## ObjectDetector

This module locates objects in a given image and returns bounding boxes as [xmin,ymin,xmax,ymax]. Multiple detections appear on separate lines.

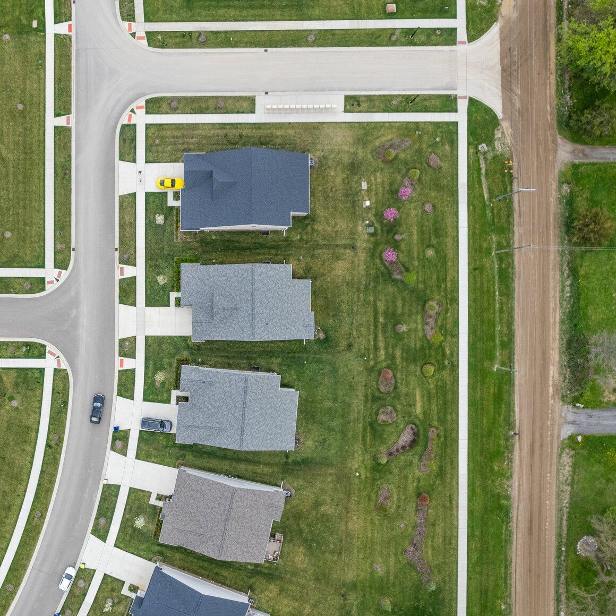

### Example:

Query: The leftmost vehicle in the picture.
[58,565,78,593]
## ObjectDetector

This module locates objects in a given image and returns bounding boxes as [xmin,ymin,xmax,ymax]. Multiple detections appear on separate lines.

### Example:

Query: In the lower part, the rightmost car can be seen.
[140,418,172,432]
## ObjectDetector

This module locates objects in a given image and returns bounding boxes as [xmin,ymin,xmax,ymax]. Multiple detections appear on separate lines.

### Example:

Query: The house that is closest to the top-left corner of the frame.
[179,148,310,236]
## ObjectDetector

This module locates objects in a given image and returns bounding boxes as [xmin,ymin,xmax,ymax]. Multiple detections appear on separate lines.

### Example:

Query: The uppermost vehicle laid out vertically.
[90,394,104,424]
